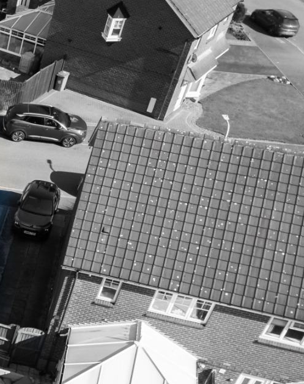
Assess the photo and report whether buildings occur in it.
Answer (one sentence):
Yes, there's a building down there.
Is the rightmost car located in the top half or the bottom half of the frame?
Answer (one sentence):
It is in the top half that the rightmost car appears.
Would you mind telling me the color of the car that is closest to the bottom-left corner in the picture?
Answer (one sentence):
In this view, the car that is closest to the bottom-left corner is black.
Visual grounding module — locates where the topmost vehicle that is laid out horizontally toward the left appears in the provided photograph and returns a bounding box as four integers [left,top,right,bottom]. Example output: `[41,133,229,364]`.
[4,103,88,149]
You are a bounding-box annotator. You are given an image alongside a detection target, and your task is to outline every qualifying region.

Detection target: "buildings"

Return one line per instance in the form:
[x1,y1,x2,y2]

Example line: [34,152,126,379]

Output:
[45,0,224,117]
[45,121,304,384]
